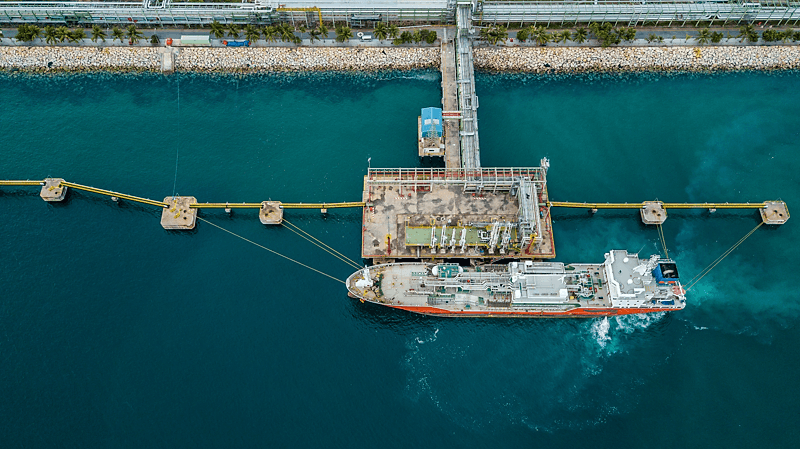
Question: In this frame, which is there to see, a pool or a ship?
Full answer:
This aerial view contains a ship.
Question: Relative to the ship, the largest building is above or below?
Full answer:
In the image, the largest building appears above the ship.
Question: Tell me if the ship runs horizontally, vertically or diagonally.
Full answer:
In this picture, the ship lies horizontally.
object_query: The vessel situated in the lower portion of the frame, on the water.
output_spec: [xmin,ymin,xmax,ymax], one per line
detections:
[346,229,687,316]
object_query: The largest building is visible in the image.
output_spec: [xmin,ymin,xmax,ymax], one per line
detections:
[417,106,444,166]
